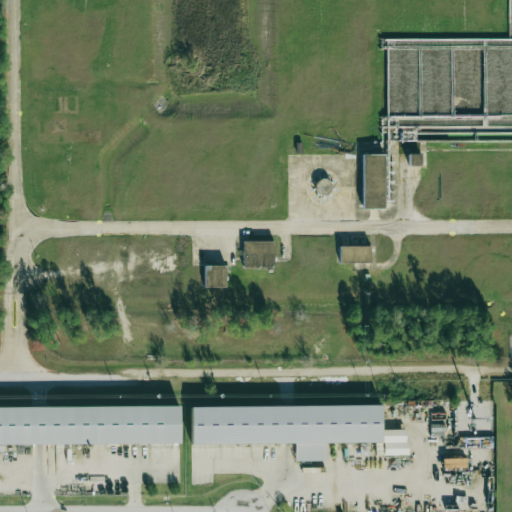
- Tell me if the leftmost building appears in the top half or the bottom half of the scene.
bottom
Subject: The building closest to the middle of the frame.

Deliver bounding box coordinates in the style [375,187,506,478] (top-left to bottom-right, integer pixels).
[244,242,275,268]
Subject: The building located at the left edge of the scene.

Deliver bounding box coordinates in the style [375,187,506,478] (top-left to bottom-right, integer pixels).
[0,406,181,444]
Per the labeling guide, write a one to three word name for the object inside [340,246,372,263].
building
